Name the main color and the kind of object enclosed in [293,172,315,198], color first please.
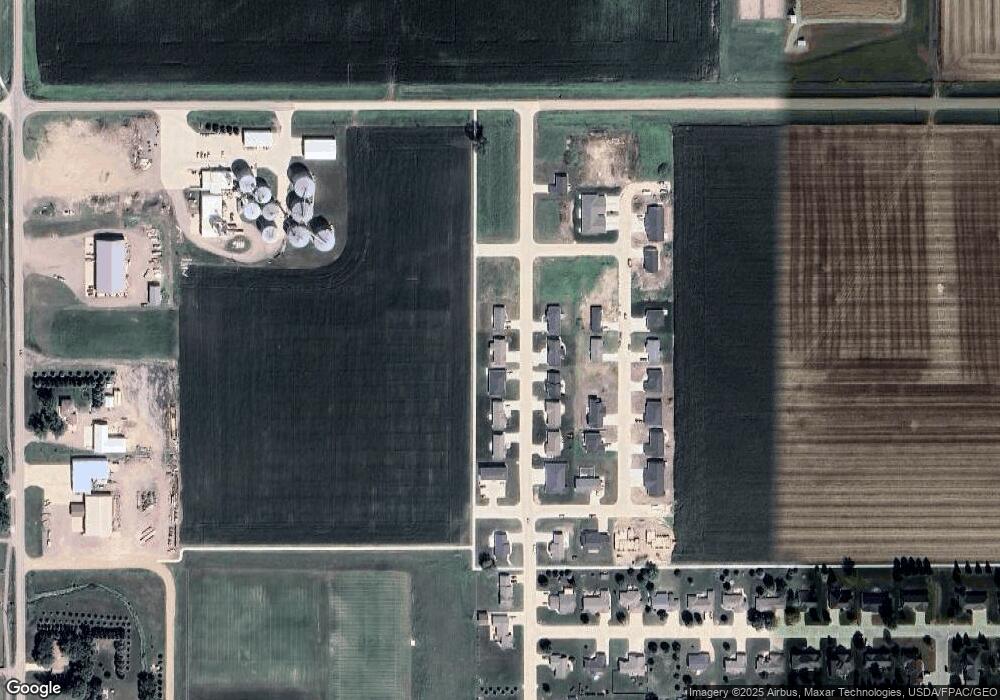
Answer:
white silo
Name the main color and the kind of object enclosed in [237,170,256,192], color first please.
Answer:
white silo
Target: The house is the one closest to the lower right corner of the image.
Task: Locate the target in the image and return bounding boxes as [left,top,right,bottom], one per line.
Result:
[965,663,979,685]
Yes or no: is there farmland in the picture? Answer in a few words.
Yes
